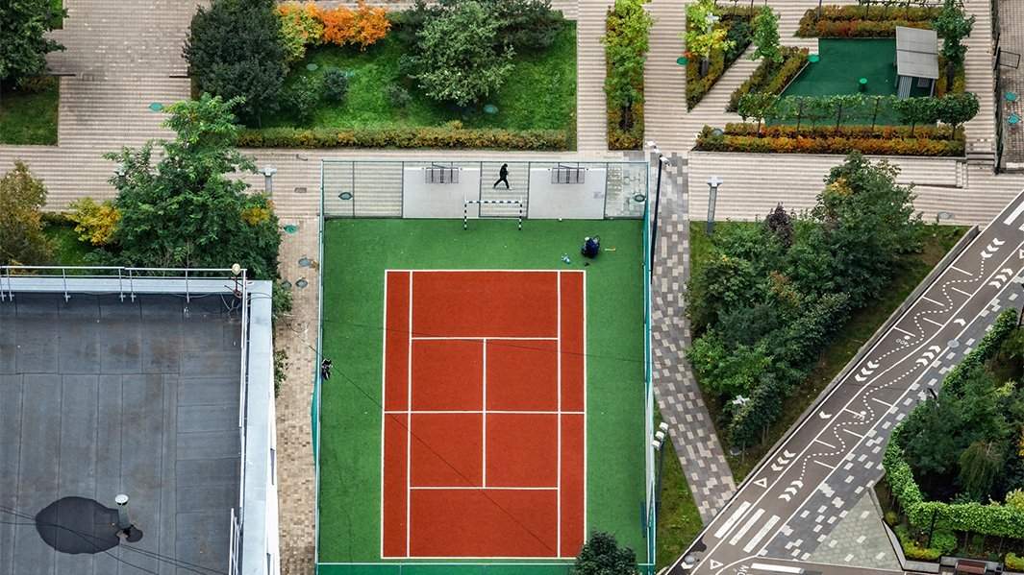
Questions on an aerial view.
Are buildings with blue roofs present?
No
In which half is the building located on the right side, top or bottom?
top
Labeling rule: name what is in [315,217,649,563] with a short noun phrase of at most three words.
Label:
tennis court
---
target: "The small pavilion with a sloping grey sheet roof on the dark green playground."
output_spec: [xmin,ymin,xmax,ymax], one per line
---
[895,26,939,108]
